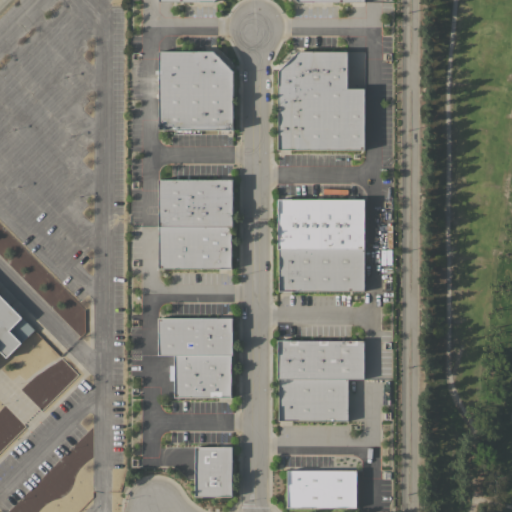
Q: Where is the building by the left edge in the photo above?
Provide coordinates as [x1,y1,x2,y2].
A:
[0,295,34,359]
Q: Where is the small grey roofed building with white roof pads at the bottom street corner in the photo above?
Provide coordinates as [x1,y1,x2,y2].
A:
[195,447,232,497]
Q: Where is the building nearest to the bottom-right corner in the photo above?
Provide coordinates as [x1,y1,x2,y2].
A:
[287,470,358,508]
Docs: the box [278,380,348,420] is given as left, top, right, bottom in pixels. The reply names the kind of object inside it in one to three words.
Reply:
building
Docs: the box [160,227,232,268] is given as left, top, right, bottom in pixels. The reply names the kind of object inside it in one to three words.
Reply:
building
